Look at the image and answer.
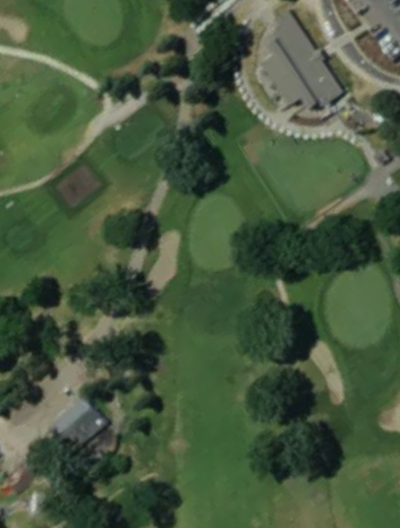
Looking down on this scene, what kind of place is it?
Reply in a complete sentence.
The area seen from above is a golf course.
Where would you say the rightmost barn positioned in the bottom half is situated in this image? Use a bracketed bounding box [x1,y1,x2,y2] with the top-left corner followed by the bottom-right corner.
[53,400,110,444]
